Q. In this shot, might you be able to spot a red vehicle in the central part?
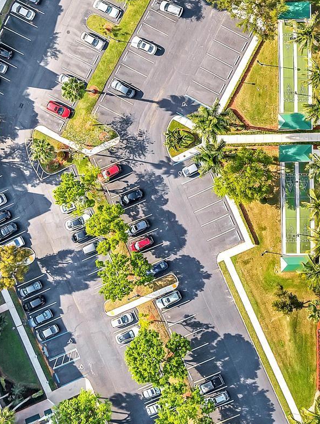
Yes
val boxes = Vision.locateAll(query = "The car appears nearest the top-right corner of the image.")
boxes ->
[156,0,187,20]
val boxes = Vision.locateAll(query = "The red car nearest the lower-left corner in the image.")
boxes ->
[129,234,155,252]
